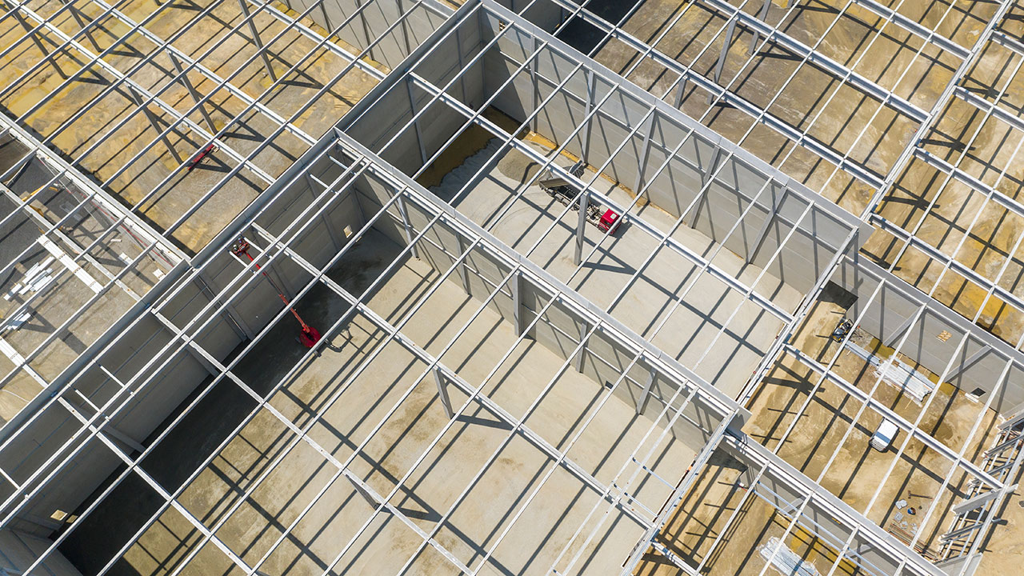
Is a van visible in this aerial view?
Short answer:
Yes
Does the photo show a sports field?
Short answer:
No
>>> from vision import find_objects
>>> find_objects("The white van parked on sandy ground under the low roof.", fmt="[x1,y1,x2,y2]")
[869,423,899,454]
